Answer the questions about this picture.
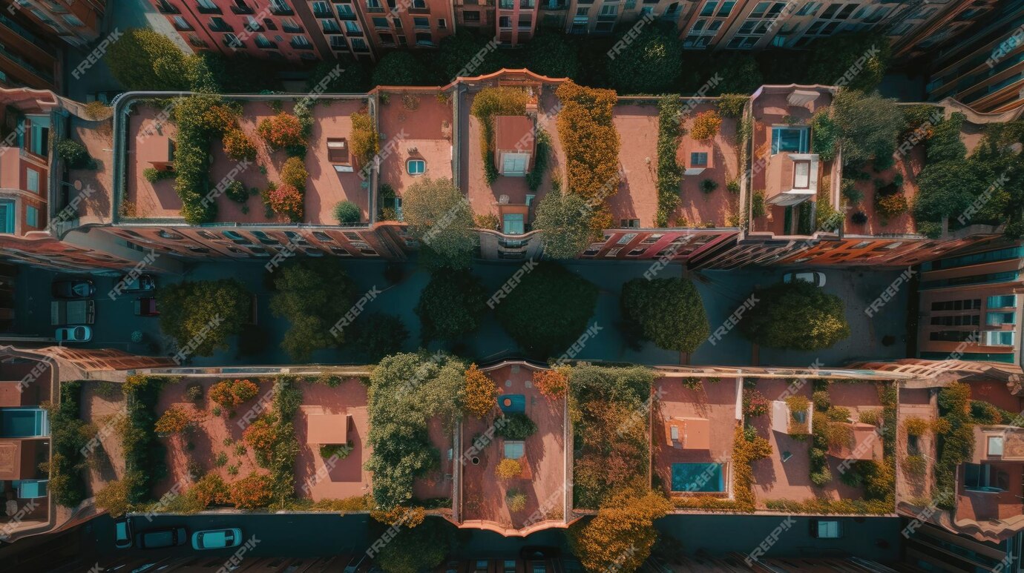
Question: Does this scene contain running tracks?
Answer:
No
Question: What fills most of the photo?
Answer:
buildings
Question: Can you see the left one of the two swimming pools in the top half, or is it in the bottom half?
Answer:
bottom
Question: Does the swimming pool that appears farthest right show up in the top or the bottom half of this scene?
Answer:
bottom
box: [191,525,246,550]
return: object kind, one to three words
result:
car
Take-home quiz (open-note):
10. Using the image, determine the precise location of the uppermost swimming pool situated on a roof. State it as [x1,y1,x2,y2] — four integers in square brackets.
[0,404,45,436]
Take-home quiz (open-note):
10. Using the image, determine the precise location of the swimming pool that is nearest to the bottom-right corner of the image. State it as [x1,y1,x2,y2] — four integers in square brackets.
[667,460,730,497]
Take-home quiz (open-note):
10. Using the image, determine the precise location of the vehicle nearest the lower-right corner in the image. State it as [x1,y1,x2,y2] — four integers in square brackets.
[804,515,843,542]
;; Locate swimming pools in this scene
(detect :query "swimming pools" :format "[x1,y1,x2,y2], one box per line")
[667,460,730,497]
[0,404,45,436]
